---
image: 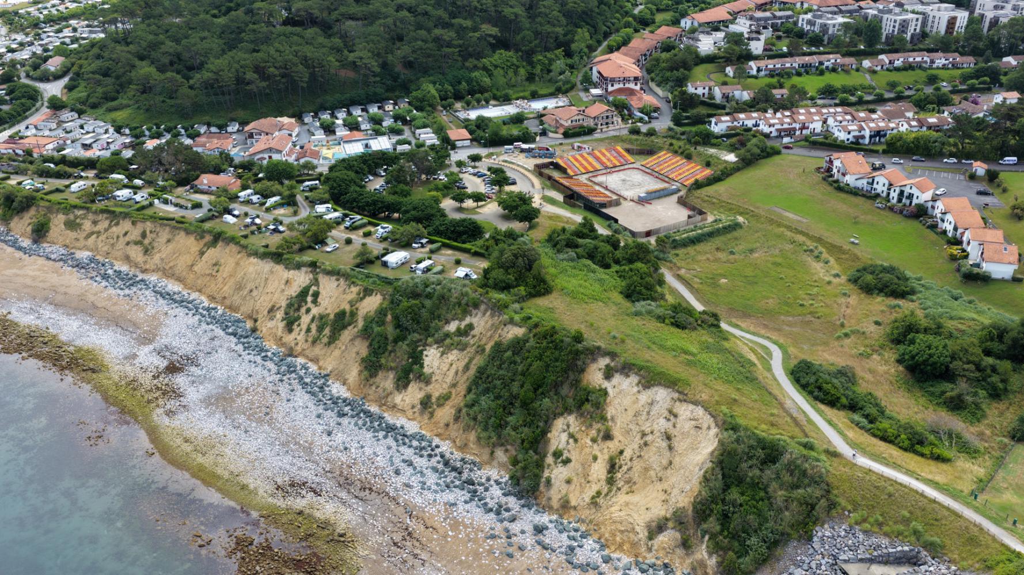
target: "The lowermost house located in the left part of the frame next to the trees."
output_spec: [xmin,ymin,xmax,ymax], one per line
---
[190,173,249,201]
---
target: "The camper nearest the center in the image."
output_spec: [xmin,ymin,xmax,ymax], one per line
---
[450,265,477,280]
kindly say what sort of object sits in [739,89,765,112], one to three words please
house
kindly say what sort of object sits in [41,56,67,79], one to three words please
house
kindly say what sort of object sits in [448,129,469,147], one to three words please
building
